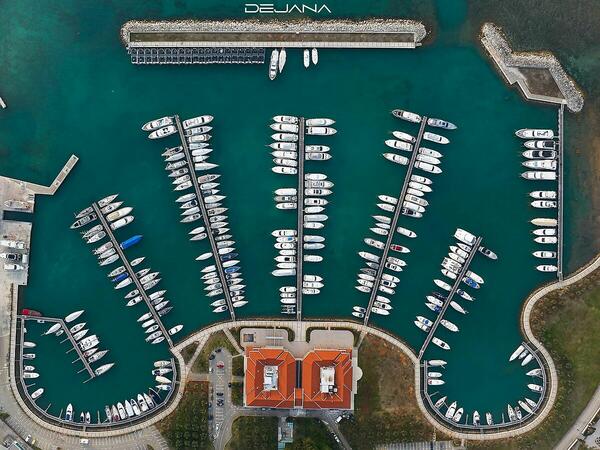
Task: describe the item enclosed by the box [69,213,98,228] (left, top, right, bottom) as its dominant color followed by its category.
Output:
gray boat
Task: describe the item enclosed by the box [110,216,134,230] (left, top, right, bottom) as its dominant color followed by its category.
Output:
white boat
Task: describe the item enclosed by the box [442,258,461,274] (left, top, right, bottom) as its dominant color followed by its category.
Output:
white boat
